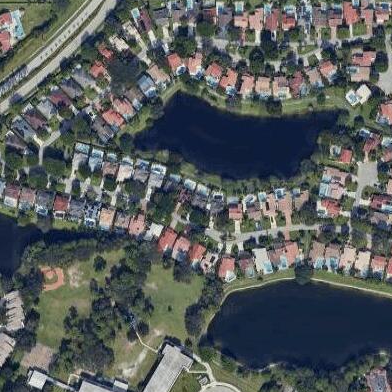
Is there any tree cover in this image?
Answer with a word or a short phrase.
Yes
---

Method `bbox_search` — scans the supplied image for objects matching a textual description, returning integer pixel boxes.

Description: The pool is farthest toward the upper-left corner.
[11,9,26,38]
